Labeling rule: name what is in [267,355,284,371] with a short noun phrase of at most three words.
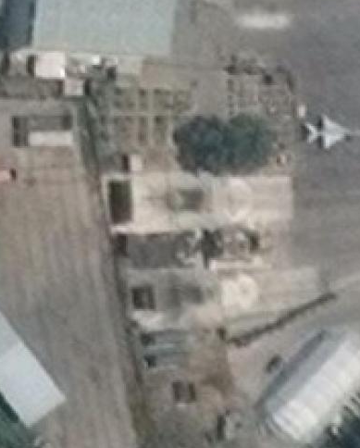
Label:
car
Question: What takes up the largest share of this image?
paved ground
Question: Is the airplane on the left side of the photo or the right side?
right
